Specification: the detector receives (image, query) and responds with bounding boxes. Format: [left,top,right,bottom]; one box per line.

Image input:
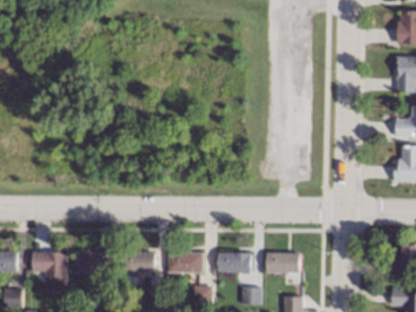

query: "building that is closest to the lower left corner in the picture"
[1,289,23,310]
